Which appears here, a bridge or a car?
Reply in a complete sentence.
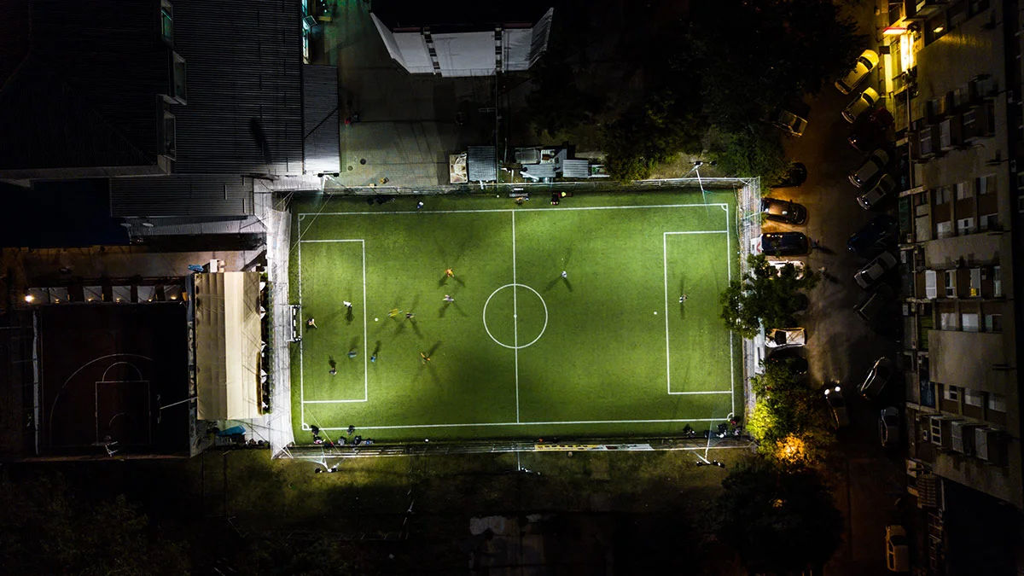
I can see a car in this picture.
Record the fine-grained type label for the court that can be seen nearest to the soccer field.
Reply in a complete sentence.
Specifically, the court that can be seen nearest to the soccer field is a basketball court.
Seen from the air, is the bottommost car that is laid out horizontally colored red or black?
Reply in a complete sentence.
The bottommost car that is laid out horizontally looks black in the image.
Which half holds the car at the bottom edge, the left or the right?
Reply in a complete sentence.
The car at the bottom edge is on the right side of the image.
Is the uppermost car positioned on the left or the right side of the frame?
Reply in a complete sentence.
You can find the uppermost car on the right side of the picture.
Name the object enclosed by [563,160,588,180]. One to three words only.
shed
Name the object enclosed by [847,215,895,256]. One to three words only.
car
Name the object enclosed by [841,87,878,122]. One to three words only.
car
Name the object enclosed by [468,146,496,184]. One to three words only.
shed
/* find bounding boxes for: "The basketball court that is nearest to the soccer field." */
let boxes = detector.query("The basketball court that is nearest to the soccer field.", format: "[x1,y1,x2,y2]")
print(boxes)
[39,306,184,455]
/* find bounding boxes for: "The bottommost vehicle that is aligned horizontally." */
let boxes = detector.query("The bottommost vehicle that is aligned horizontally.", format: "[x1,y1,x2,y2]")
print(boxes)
[765,354,809,375]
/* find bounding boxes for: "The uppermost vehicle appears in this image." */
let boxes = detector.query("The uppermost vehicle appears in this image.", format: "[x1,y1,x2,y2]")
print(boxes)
[836,52,876,92]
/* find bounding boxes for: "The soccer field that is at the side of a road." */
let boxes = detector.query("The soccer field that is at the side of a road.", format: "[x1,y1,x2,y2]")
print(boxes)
[292,191,742,445]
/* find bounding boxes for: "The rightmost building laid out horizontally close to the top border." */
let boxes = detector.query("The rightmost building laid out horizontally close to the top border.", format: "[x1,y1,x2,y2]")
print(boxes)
[371,0,553,76]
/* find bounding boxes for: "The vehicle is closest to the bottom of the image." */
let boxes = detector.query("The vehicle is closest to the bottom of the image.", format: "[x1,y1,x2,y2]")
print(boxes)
[884,524,910,574]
